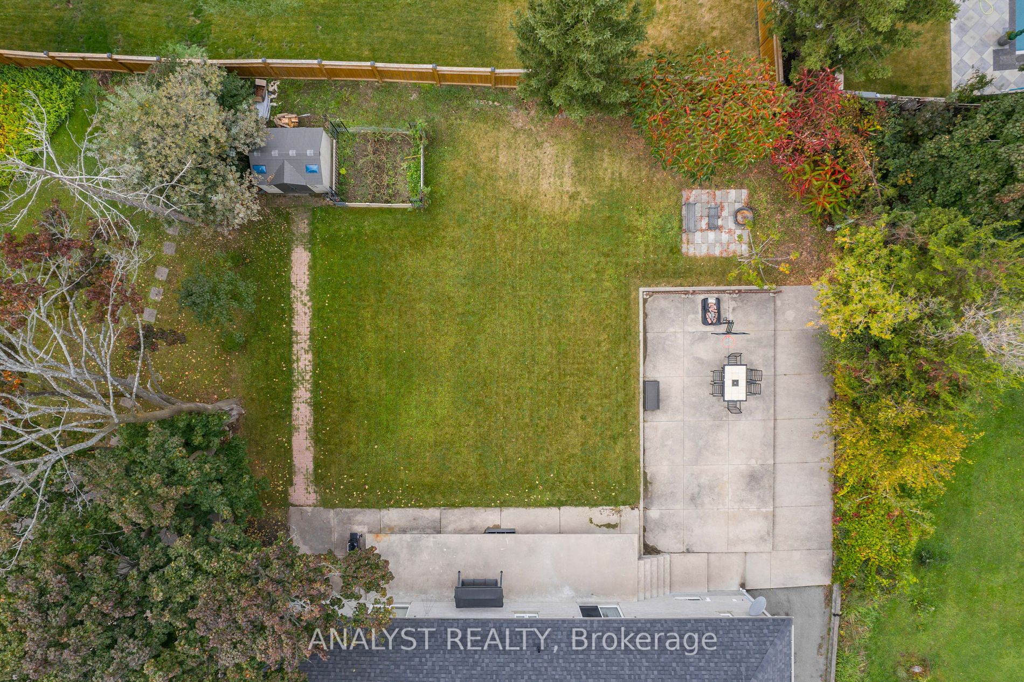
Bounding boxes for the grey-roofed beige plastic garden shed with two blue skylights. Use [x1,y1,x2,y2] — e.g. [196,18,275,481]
[248,124,331,194]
